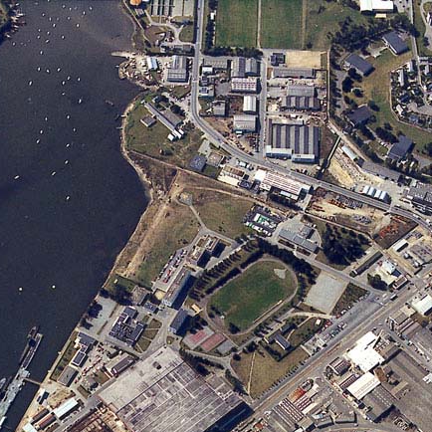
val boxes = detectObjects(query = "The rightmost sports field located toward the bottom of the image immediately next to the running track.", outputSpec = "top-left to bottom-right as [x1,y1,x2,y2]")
[262,262,326,319]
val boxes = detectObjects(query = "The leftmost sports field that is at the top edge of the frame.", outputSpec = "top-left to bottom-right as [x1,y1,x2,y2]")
[215,0,257,47]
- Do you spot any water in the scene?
Yes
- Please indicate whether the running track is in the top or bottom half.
bottom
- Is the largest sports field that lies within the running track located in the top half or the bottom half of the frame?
bottom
